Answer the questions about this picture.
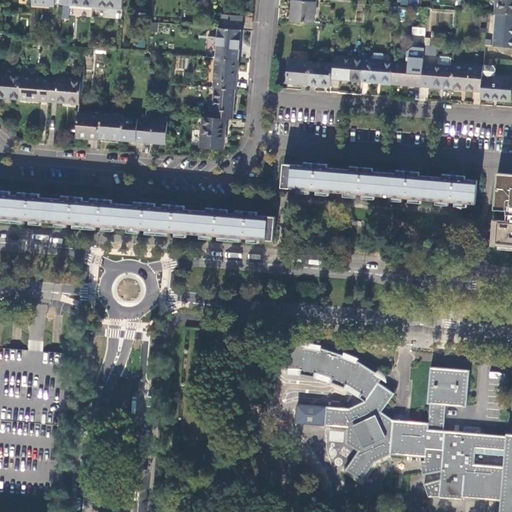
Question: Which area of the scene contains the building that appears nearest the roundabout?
left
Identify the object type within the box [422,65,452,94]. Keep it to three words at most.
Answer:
house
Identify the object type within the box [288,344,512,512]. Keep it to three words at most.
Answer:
building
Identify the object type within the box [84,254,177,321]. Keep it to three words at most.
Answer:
roundabout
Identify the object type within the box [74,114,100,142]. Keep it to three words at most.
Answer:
house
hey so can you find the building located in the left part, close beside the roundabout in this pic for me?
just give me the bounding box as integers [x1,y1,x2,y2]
[0,192,274,248]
